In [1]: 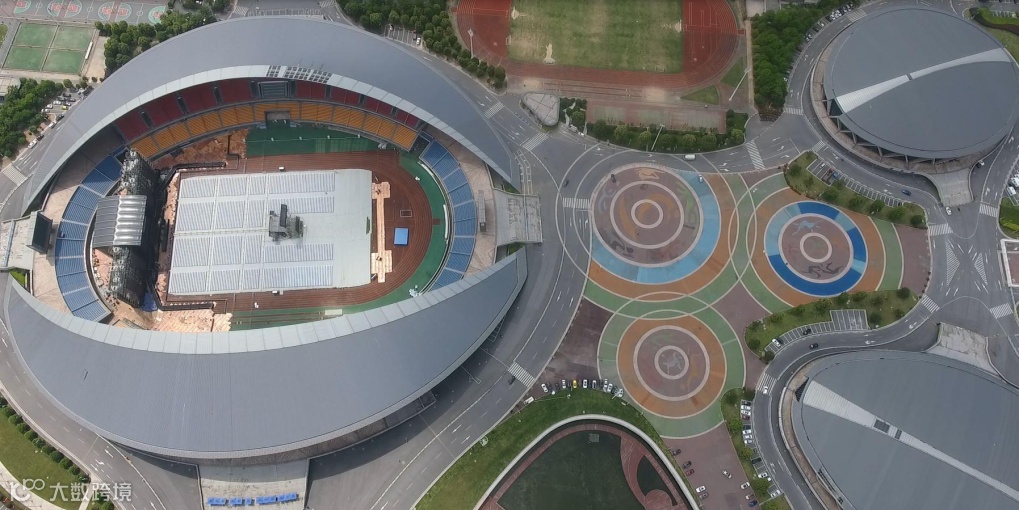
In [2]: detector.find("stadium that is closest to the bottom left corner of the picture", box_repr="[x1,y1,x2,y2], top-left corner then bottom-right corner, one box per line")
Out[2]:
[0,15,543,510]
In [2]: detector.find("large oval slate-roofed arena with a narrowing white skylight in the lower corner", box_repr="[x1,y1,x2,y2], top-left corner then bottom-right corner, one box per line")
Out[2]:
[777,323,1019,510]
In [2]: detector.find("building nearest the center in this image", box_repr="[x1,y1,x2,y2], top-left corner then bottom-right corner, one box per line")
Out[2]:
[524,92,560,128]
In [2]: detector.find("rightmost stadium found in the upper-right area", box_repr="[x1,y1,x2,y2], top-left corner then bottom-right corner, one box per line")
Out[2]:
[807,7,1019,209]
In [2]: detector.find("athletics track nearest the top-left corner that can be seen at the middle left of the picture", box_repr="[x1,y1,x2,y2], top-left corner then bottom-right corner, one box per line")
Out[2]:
[84,123,449,330]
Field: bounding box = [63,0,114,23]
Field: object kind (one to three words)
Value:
basketball court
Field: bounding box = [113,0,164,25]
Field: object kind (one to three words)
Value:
basketball court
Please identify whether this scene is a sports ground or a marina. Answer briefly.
sports ground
